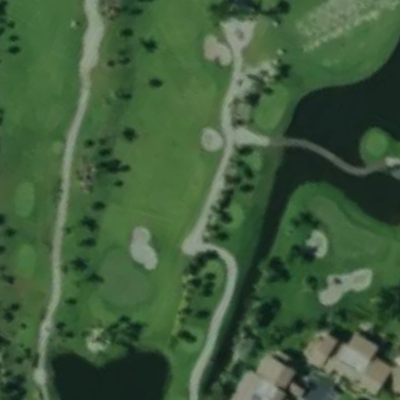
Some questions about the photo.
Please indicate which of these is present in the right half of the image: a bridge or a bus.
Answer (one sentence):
The one visible in the right half of the image is a bridge.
